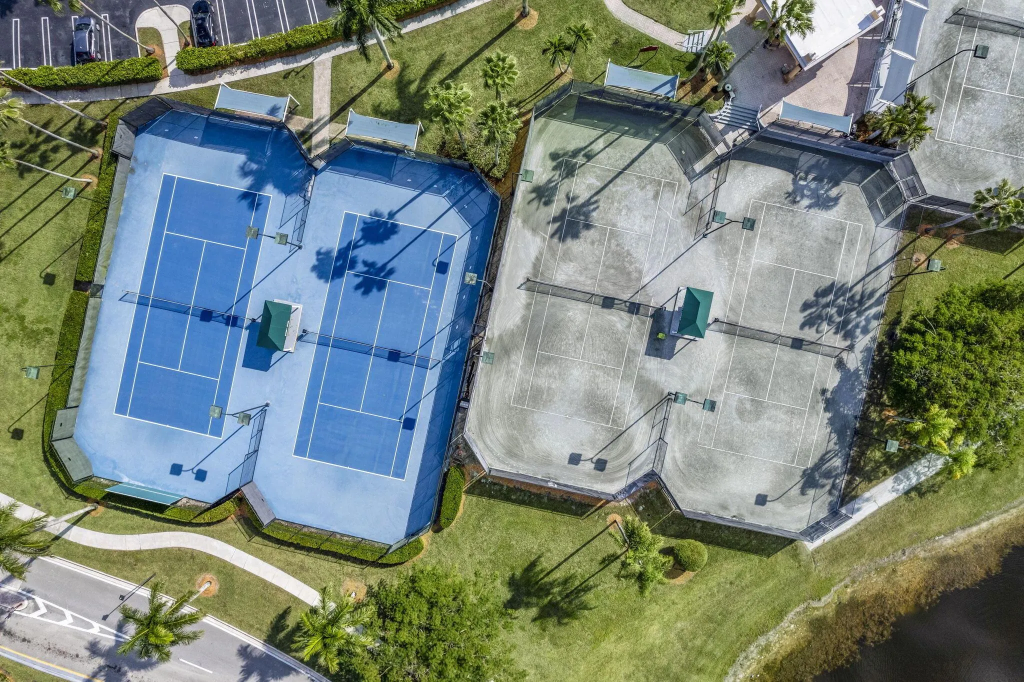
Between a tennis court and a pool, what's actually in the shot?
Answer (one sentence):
Of the two, only a tennis court appears.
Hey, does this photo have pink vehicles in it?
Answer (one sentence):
No, this view has no pink vehicle in it.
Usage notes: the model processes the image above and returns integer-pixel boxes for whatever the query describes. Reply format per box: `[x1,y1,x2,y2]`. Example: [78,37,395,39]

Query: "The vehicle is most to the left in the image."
[69,15,99,64]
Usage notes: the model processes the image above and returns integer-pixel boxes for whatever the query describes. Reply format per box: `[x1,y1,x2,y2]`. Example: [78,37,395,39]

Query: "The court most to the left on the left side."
[73,108,318,503]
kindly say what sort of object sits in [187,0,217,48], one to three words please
car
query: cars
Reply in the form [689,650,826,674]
[69,15,99,64]
[187,0,217,48]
